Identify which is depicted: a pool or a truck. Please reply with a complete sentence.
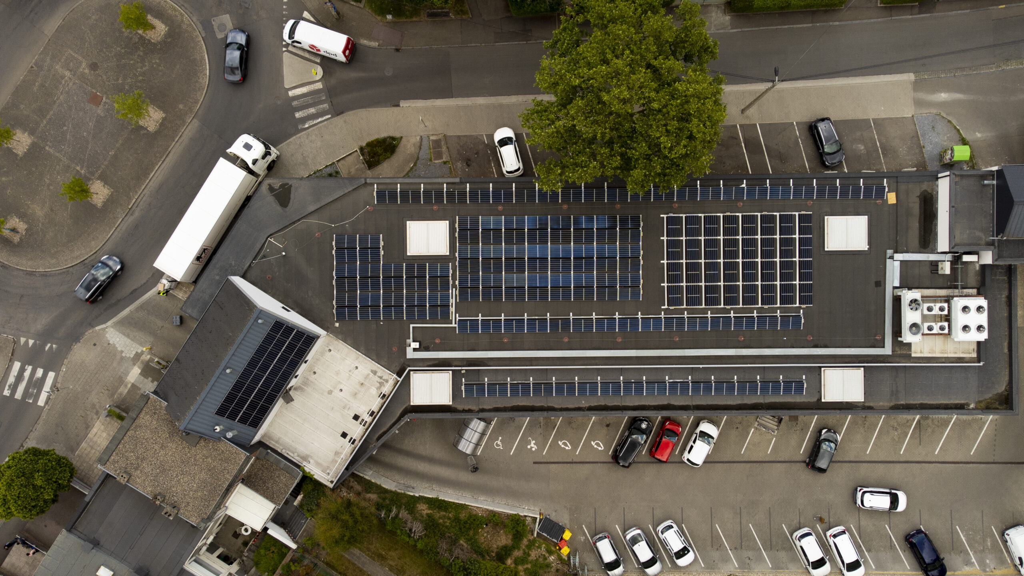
This aerial view contains a truck.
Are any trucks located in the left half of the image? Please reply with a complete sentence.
Yes, the scene does show a truck in the left half of the image.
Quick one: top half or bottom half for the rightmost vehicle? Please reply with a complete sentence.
Seen from above, the rightmost vehicle lies in the bottom half of the view.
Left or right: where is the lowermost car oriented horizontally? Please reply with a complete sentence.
The lowermost car oriented horizontally appears in the right half of the scene.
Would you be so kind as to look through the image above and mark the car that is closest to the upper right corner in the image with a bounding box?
[809,116,846,169]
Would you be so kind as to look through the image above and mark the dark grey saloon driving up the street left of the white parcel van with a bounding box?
[223,30,252,85]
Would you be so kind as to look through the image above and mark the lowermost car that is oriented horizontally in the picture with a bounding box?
[851,485,906,514]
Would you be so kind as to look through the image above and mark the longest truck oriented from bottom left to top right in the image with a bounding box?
[153,127,284,281]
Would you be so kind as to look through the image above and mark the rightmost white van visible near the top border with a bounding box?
[284,18,360,65]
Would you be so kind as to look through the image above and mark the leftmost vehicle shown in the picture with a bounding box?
[76,255,125,305]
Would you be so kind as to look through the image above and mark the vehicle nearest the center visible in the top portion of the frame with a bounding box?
[494,128,523,178]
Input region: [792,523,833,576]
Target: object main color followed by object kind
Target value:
white car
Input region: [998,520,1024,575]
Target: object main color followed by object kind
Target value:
white vehicle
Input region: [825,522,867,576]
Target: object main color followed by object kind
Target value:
white car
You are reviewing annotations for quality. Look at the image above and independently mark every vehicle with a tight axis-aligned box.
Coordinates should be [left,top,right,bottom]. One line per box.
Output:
[612,418,650,468]
[594,528,630,576]
[825,522,867,576]
[657,516,695,568]
[851,485,906,514]
[809,116,846,169]
[153,127,284,281]
[625,523,663,576]
[792,523,833,576]
[998,520,1024,575]
[904,526,947,576]
[76,255,125,305]
[223,30,252,85]
[494,128,523,178]
[284,18,360,65]
[649,419,682,463]
[804,426,840,473]
[681,419,718,468]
